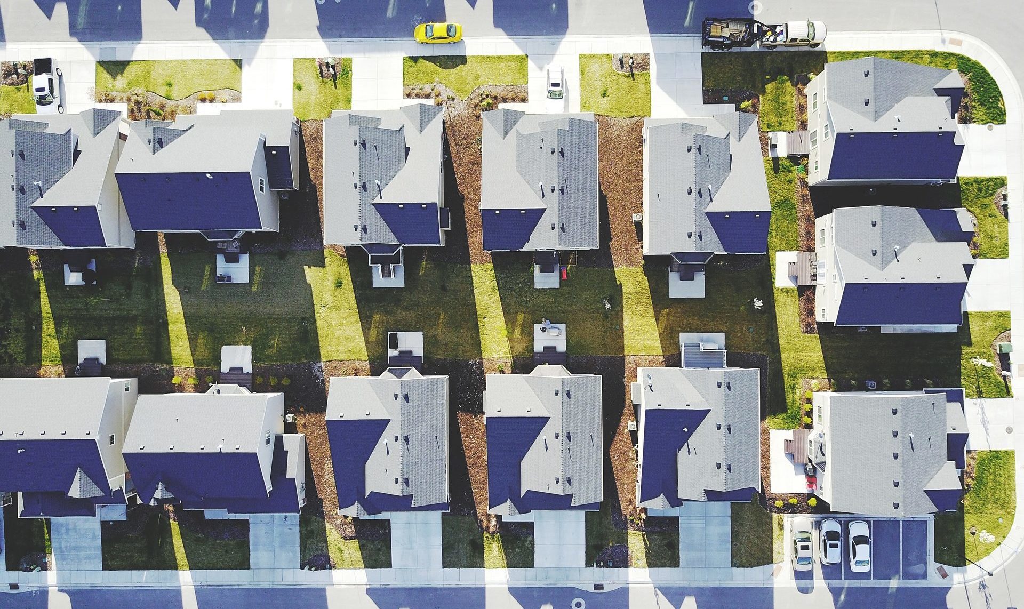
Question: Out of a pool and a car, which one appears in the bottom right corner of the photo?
car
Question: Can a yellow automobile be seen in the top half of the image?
Yes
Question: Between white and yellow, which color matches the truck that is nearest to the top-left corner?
white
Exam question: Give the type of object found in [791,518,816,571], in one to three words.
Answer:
car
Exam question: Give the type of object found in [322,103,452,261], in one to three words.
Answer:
house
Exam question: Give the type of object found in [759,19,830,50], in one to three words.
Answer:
truck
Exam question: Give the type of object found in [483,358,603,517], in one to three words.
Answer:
house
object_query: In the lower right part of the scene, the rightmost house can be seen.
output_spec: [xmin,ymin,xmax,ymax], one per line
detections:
[799,387,978,520]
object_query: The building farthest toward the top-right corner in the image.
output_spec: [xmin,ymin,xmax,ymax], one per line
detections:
[809,56,965,185]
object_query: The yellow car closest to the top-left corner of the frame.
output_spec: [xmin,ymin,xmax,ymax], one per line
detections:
[415,19,463,44]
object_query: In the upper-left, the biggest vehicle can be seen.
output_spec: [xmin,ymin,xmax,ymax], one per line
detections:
[32,54,65,112]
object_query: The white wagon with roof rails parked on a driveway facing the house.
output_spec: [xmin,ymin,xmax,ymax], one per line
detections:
[544,63,568,113]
